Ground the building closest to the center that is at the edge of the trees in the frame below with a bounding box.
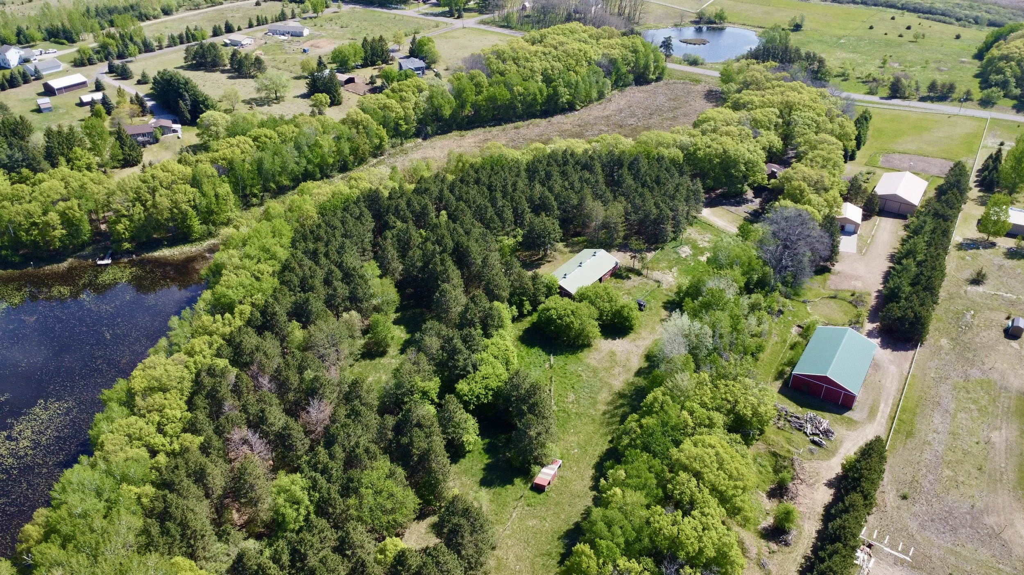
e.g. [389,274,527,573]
[545,248,620,300]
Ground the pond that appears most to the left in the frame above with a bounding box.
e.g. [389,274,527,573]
[639,25,758,63]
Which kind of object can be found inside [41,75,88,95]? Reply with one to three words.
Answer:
shed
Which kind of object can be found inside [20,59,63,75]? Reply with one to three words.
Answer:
shed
